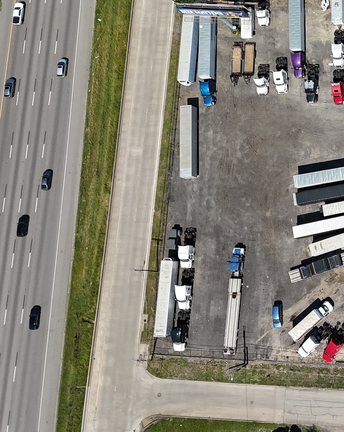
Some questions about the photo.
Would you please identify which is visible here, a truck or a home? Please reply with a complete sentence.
There is a truck in the scene.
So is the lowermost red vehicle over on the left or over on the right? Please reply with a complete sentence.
The lowermost red vehicle appears in the right half of the scene.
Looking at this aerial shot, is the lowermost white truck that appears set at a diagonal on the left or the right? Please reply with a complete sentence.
The lowermost white truck that appears set at a diagonal appears in the right half of the scene.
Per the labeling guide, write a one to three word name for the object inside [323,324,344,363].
vehicle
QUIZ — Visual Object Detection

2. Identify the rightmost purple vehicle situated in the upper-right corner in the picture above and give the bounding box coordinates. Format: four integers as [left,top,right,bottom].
[290,52,305,79]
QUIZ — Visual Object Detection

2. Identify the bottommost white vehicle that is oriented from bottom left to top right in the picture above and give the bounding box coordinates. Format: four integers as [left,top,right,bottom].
[298,322,331,357]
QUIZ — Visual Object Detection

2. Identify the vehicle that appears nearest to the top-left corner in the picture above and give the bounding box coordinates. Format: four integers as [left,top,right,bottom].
[12,3,25,26]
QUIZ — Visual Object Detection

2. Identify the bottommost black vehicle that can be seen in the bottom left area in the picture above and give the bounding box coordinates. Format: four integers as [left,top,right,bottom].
[28,306,41,329]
